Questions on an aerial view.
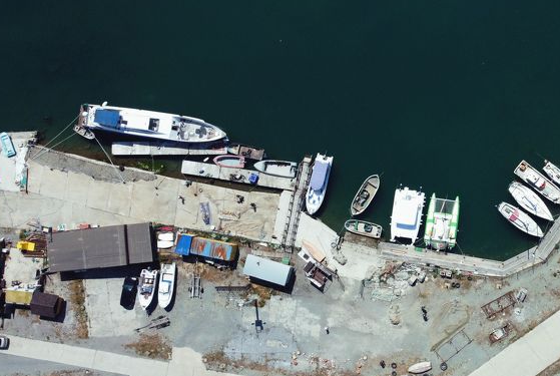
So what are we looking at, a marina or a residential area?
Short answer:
marina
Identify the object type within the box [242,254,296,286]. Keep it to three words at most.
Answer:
shed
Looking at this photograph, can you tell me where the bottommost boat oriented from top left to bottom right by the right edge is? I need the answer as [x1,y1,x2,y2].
[495,202,544,237]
